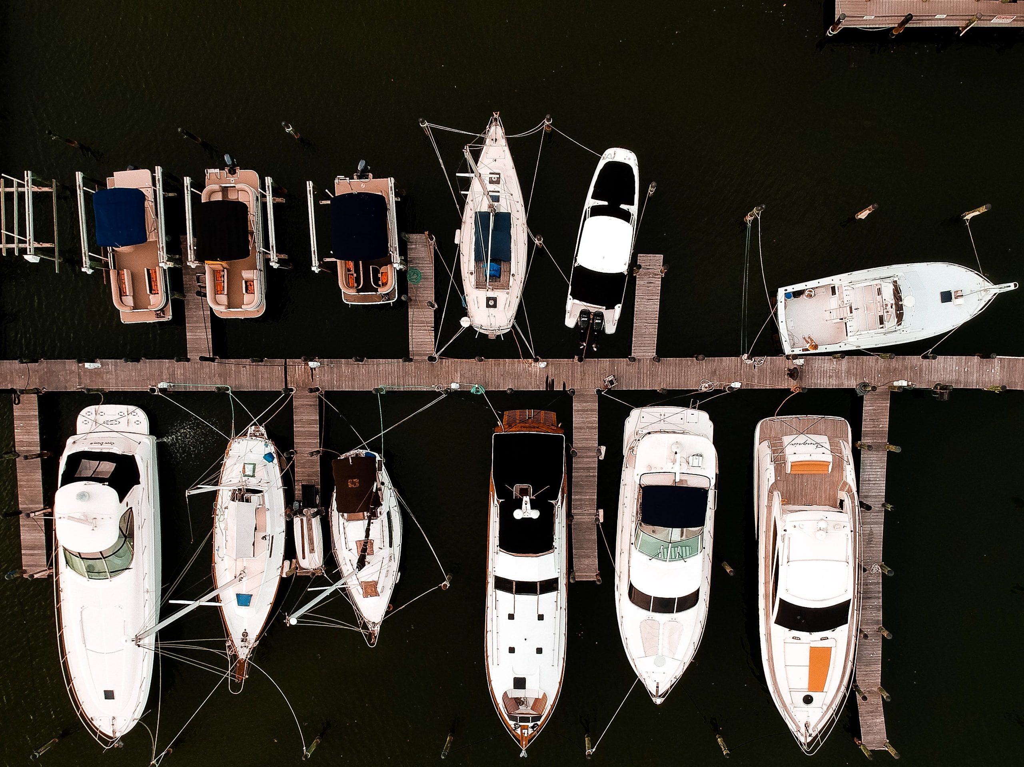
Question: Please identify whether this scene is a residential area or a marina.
marina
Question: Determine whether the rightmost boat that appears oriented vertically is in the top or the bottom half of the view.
bottom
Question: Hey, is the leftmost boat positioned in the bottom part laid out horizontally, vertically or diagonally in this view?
vertically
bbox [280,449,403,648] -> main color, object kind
white boat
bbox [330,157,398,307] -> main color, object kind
black boat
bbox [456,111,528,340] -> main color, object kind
white boat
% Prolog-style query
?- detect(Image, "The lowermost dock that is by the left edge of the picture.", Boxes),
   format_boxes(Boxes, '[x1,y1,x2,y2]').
[13,391,51,578]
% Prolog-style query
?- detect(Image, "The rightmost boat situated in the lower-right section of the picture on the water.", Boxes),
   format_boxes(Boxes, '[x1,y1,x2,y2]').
[751,415,863,756]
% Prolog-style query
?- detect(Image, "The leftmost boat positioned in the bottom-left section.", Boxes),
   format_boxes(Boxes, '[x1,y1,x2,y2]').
[53,404,167,753]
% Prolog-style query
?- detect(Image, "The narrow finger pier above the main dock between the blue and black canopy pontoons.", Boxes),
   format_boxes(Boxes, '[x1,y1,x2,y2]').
[180,236,215,358]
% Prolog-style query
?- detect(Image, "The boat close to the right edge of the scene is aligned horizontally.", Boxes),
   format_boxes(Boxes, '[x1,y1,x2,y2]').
[770,262,1018,355]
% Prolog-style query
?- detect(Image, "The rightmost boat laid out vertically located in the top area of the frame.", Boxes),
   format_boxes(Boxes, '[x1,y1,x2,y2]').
[565,147,639,350]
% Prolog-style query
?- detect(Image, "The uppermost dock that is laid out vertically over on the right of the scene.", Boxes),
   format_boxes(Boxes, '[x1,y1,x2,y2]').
[630,254,664,357]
